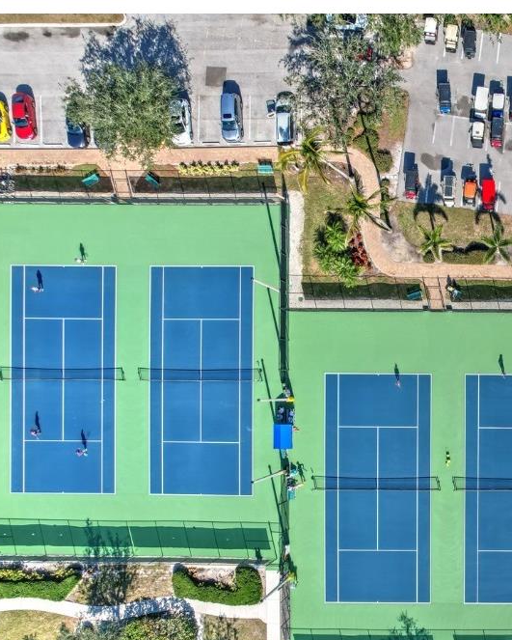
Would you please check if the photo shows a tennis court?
Yes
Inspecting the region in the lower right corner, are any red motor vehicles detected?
No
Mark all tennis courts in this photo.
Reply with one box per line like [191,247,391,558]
[0,203,132,556]
[132,203,286,556]
[287,309,448,640]
[448,309,512,640]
